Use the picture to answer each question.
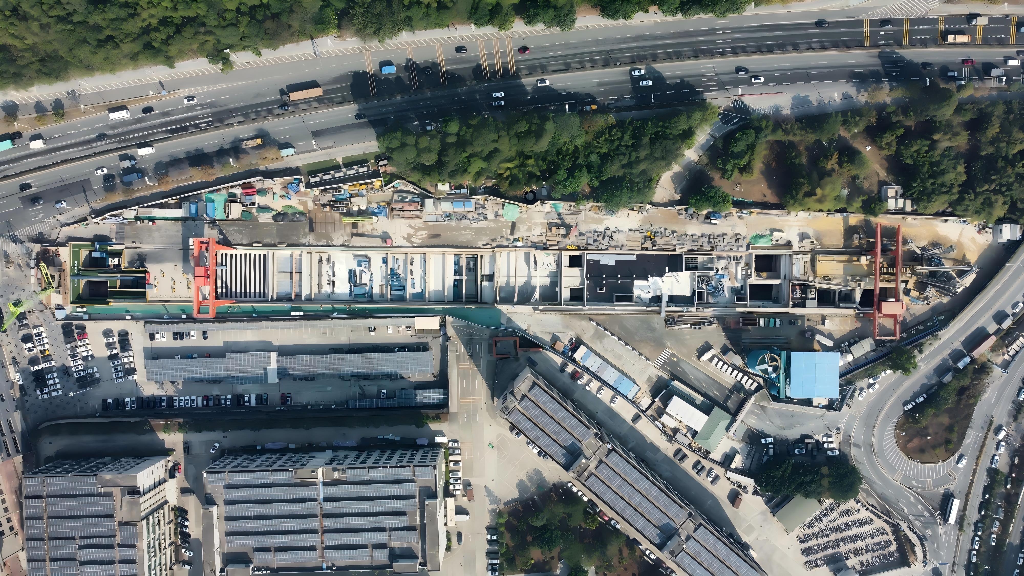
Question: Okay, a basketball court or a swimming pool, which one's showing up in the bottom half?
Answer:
basketball court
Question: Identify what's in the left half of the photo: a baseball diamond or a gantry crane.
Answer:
gantry crane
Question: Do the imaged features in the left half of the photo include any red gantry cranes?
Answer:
Yes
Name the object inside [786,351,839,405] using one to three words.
shed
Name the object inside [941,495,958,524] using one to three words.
vehicle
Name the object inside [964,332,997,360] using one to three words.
truck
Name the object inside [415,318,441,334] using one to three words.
building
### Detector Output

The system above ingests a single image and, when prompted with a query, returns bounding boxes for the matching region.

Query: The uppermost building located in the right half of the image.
[873,186,912,212]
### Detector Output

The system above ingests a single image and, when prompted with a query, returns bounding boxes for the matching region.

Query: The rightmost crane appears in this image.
[846,222,906,339]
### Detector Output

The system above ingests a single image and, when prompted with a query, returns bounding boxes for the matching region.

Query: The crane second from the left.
[193,238,247,318]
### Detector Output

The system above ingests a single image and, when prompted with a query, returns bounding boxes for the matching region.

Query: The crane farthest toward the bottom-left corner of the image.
[0,248,57,329]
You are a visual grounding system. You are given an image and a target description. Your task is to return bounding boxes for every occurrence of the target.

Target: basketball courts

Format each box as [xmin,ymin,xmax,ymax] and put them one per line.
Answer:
[480,434,556,505]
